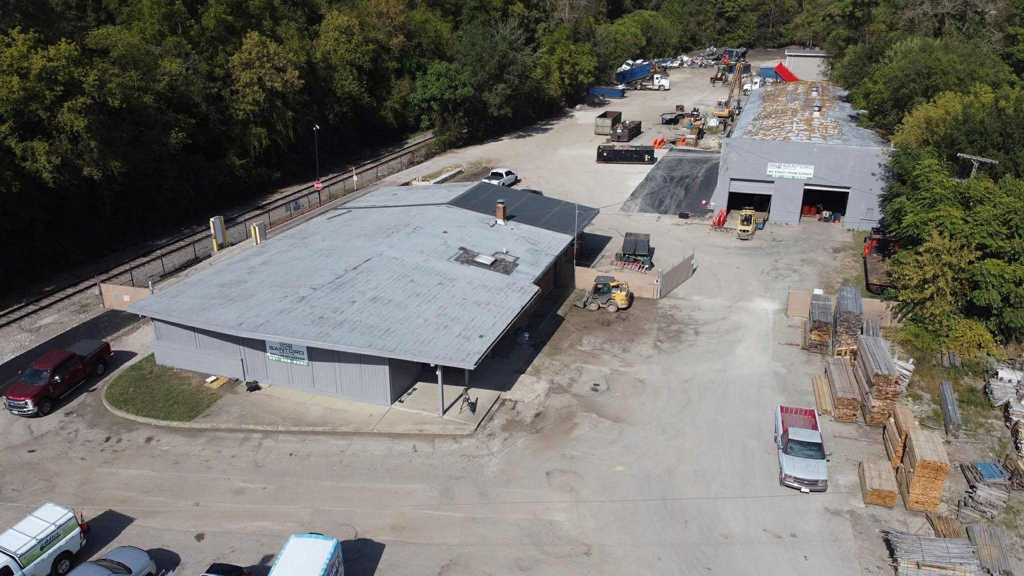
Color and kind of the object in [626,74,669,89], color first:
white vehicle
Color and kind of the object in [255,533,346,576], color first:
white van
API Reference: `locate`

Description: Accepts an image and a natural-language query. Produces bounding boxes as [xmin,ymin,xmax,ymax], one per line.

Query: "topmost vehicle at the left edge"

[0,341,114,414]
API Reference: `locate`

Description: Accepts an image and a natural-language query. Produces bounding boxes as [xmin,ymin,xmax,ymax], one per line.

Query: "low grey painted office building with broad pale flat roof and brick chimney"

[124,181,606,416]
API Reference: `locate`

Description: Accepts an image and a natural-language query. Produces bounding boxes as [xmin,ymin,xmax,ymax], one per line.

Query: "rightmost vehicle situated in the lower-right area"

[775,409,837,496]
